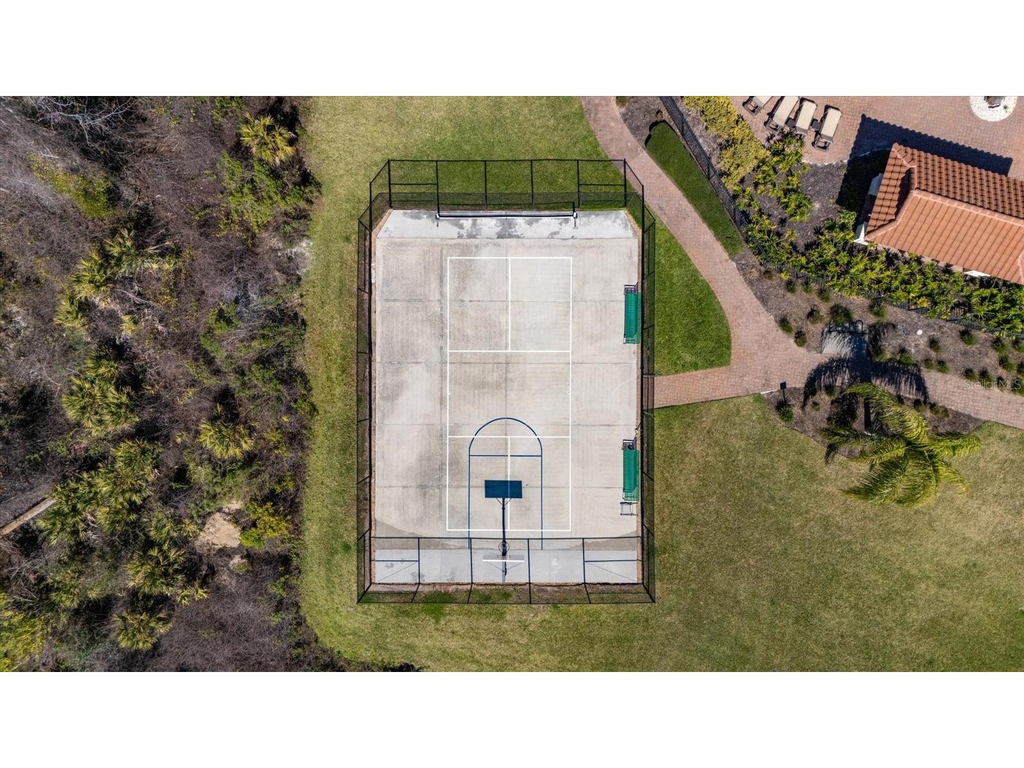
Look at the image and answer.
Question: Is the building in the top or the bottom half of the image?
top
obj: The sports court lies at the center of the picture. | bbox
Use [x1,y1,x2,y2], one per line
[375,210,639,583]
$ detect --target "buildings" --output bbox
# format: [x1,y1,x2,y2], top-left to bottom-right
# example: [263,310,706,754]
[851,142,1024,290]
